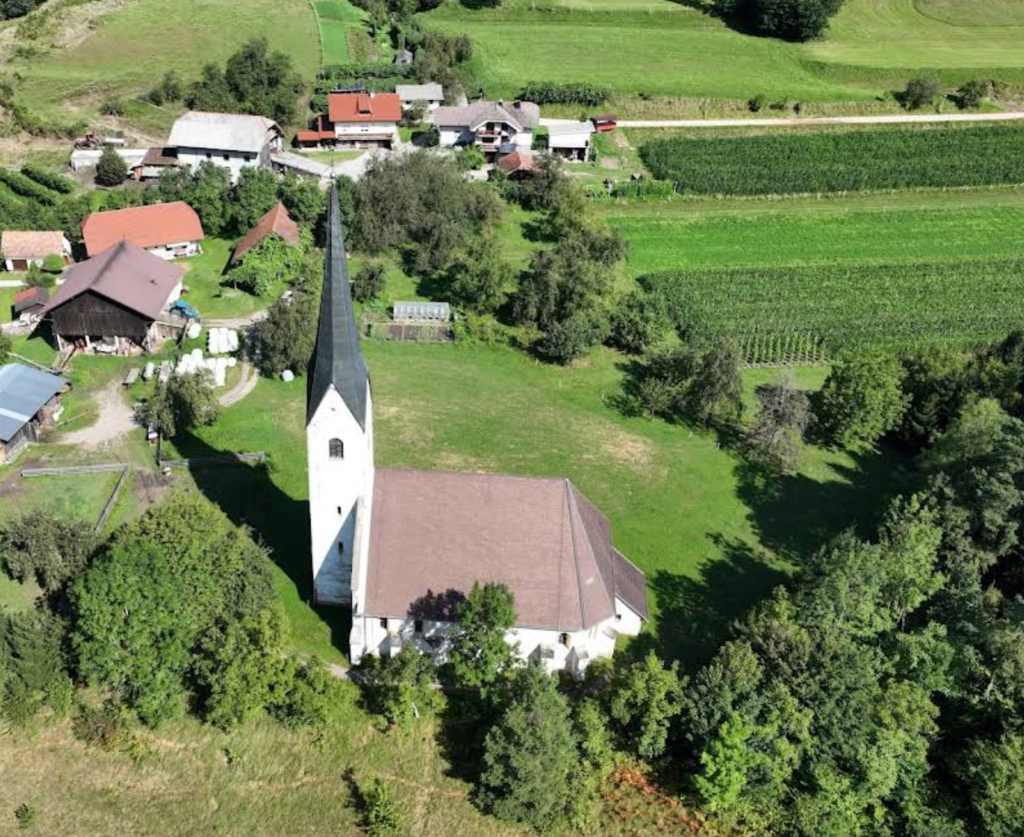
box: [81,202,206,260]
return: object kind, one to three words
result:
house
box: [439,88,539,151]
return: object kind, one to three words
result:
house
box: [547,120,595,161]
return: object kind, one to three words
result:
building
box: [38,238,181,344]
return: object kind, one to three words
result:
barn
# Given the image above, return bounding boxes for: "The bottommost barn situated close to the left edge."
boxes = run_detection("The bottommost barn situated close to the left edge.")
[0,356,67,461]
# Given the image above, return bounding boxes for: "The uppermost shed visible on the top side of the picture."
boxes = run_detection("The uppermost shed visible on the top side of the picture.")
[394,43,414,68]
